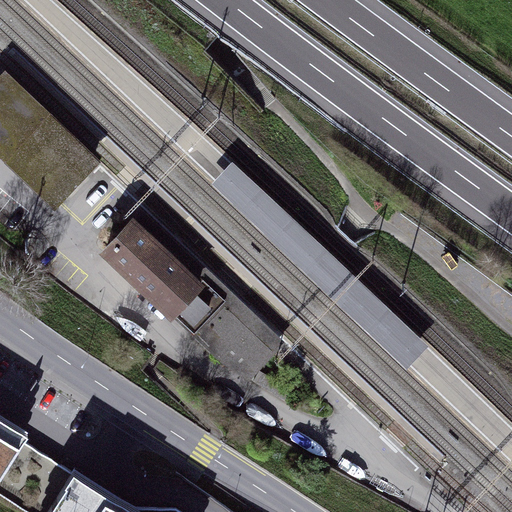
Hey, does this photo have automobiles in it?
Yes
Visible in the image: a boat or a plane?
boat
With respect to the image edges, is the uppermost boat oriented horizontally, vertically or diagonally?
diagonally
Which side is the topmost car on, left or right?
left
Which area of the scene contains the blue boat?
bottom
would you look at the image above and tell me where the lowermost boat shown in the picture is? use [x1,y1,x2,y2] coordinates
[337,457,370,479]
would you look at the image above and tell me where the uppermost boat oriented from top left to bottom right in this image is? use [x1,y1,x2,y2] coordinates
[113,314,147,341]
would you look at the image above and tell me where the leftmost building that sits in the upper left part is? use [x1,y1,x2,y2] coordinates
[0,64,100,210]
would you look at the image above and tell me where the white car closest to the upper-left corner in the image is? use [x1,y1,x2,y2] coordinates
[85,185,108,207]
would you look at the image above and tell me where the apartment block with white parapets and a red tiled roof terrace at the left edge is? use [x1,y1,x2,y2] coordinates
[0,408,32,482]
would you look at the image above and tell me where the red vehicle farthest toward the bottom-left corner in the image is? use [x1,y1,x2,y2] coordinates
[40,388,55,410]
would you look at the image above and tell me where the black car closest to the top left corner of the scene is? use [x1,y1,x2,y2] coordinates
[7,207,24,229]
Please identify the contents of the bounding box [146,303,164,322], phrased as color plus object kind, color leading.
white car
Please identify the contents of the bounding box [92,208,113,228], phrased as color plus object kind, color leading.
white car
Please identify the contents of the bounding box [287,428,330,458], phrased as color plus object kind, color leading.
blue boat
